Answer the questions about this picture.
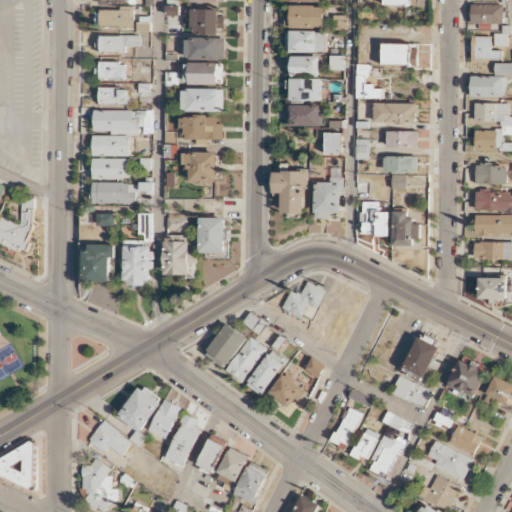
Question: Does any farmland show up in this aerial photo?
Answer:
No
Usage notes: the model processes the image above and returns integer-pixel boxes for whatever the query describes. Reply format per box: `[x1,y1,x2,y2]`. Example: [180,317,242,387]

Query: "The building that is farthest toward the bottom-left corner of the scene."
[0,442,32,490]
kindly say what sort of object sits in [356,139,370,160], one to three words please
building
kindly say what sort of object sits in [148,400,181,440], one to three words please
house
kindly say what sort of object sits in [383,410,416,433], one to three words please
building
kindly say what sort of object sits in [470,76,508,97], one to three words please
house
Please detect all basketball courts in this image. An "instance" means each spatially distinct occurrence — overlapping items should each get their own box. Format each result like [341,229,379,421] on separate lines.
[0,344,23,379]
